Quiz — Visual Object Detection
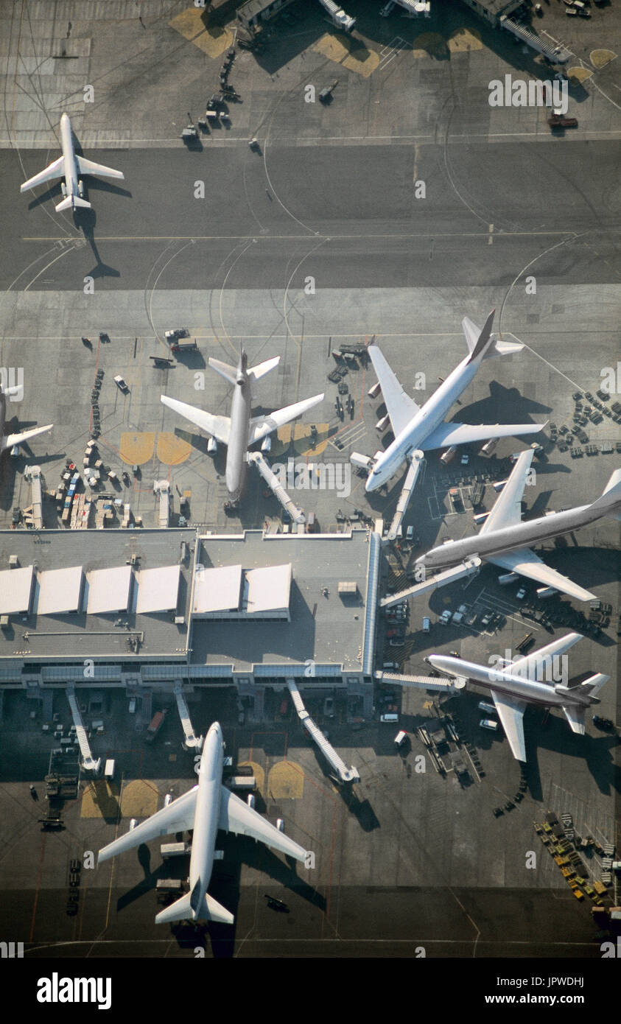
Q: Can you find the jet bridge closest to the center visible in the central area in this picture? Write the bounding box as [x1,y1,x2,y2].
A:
[244,449,307,529]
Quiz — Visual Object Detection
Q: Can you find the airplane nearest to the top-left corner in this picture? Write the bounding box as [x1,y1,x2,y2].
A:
[20,115,123,216]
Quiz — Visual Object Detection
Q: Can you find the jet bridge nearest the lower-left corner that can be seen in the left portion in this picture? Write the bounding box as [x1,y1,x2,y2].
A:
[65,687,104,775]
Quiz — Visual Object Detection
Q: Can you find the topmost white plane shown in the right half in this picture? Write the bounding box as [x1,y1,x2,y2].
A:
[364,311,546,496]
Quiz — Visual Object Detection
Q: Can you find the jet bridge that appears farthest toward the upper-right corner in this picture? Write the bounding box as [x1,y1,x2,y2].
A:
[498,15,575,68]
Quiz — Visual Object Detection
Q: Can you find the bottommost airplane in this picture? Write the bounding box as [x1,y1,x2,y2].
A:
[98,720,308,920]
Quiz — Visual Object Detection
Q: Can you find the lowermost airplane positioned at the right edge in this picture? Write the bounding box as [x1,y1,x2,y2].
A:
[427,629,612,762]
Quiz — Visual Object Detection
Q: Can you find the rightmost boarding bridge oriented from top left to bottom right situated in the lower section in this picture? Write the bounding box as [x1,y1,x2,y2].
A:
[288,684,362,785]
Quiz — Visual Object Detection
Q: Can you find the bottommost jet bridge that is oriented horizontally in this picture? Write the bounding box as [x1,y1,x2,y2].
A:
[381,670,467,700]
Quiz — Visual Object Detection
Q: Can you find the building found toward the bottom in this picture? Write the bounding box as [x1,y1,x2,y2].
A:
[0,520,386,732]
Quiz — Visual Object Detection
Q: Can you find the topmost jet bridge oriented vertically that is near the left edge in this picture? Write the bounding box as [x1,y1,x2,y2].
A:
[22,465,48,529]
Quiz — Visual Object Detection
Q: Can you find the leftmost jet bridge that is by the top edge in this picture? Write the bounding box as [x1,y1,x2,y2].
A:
[317,0,354,32]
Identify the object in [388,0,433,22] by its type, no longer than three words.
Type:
jet bridge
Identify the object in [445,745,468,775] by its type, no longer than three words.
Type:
work vehicle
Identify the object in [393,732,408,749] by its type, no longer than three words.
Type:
vehicle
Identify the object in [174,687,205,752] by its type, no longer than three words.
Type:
jet bridge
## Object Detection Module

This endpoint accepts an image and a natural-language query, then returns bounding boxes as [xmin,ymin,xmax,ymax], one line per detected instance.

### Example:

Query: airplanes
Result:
[20,115,123,216]
[427,629,612,762]
[411,446,621,598]
[364,311,546,496]
[98,720,308,920]
[162,329,320,503]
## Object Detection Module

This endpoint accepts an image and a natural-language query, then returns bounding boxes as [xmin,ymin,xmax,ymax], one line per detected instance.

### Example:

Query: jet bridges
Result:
[174,687,205,752]
[498,15,575,68]
[22,465,48,529]
[288,684,362,785]
[386,449,424,552]
[376,550,481,619]
[317,0,354,32]
[381,670,467,700]
[149,477,175,527]
[244,449,307,529]
[388,0,433,22]
[65,687,104,775]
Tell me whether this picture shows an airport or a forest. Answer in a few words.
airport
